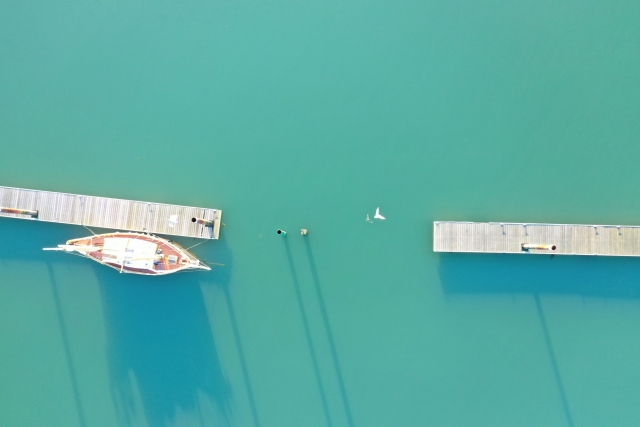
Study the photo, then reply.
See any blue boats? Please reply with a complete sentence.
No, I can see no blue boat in this picture.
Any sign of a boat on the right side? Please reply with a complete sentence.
No, on the right side there is no boat.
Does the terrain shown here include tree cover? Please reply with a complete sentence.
No, there's no tree cover in this view.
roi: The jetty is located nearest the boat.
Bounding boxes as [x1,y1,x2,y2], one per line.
[0,187,222,239]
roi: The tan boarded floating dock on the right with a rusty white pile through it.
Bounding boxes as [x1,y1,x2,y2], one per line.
[433,221,640,256]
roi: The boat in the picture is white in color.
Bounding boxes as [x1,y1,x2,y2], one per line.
[42,232,209,276]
